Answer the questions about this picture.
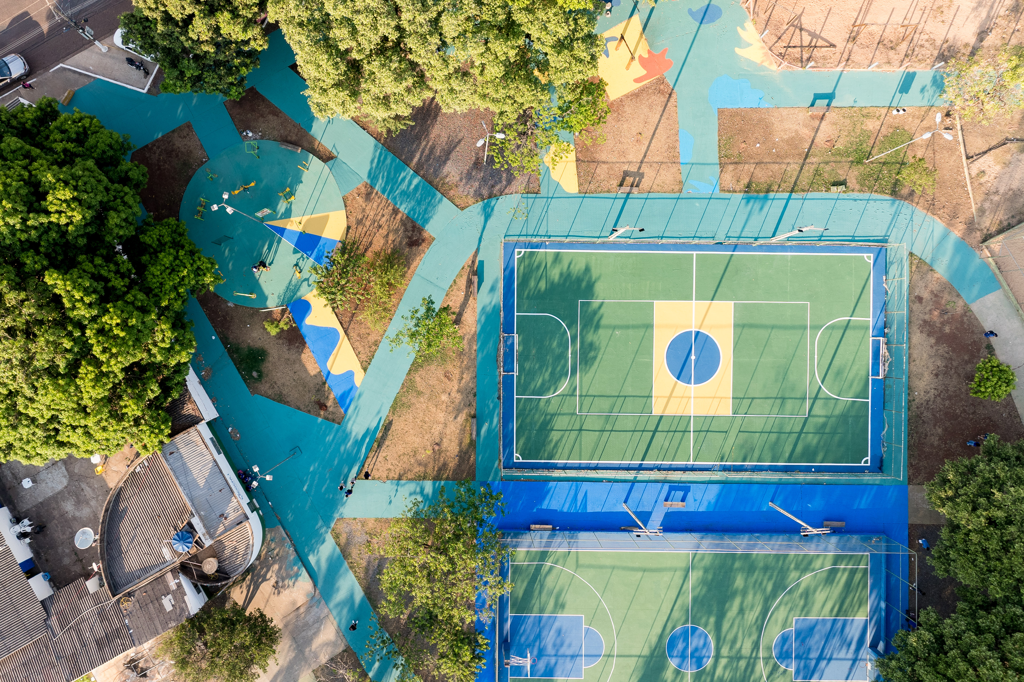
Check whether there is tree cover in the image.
Yes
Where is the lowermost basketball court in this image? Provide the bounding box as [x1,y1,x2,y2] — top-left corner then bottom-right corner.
[498,535,881,682]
